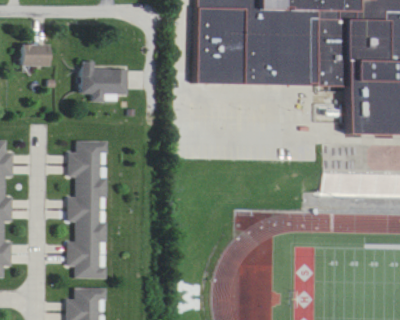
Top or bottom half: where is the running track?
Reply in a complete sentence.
You can find the running track in the bottom half.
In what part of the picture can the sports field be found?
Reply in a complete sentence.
The sports field is in the bottom right part of the image.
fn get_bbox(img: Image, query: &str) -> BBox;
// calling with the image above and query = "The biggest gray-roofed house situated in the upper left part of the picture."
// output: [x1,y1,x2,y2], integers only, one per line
[80,61,128,104]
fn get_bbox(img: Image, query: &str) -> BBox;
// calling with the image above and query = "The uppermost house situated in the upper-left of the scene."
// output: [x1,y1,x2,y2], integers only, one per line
[21,44,54,66]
